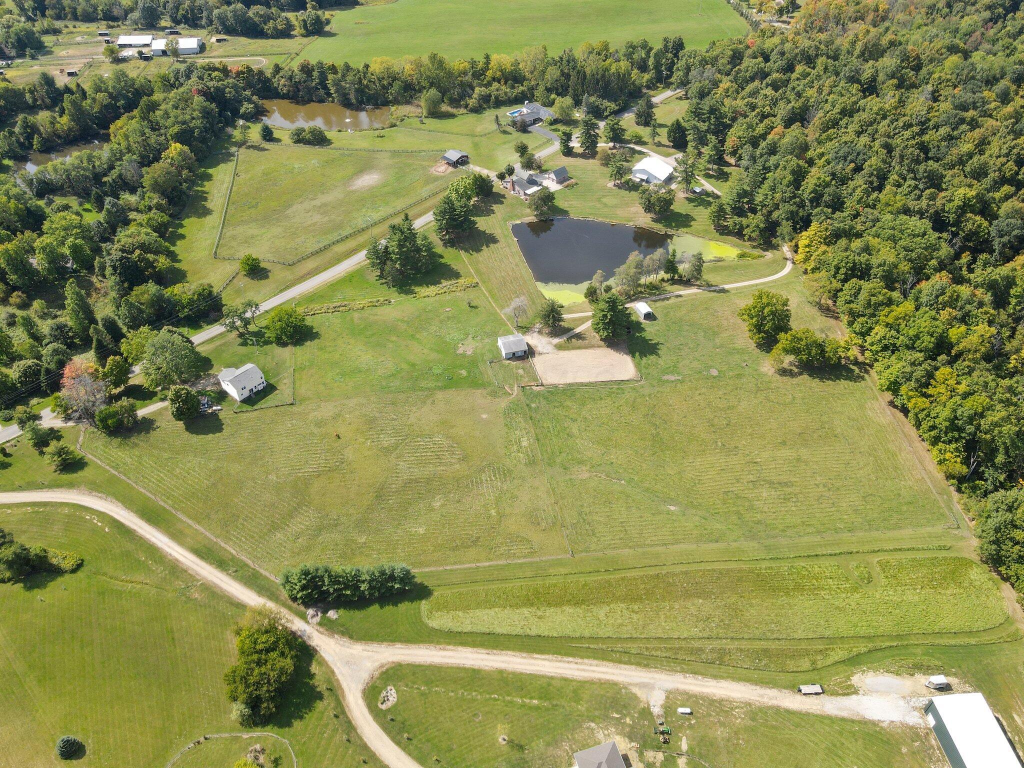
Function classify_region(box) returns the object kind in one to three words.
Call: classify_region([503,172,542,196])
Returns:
house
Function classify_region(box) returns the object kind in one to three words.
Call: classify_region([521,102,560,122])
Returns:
house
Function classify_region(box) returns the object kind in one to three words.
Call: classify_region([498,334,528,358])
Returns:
barn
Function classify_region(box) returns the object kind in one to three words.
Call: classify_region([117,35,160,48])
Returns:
barn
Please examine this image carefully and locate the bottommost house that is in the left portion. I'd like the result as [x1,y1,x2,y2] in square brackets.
[211,365,267,400]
